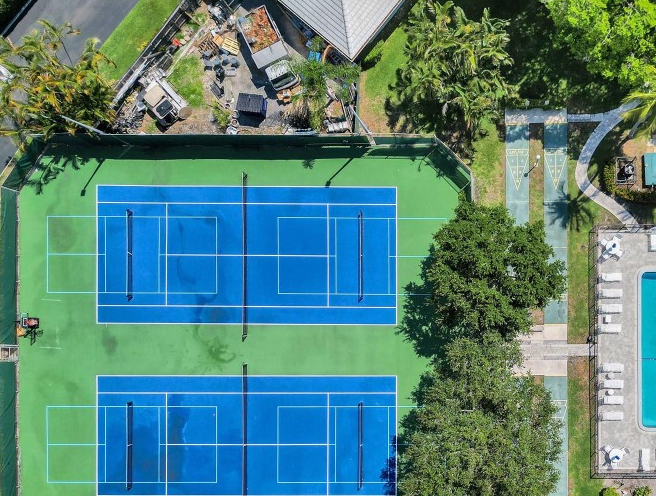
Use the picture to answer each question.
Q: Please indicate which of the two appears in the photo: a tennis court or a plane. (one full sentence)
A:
I can see a tennis court in this picture.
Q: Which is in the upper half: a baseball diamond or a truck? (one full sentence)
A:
Looking in the upper half, you will find a truck.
